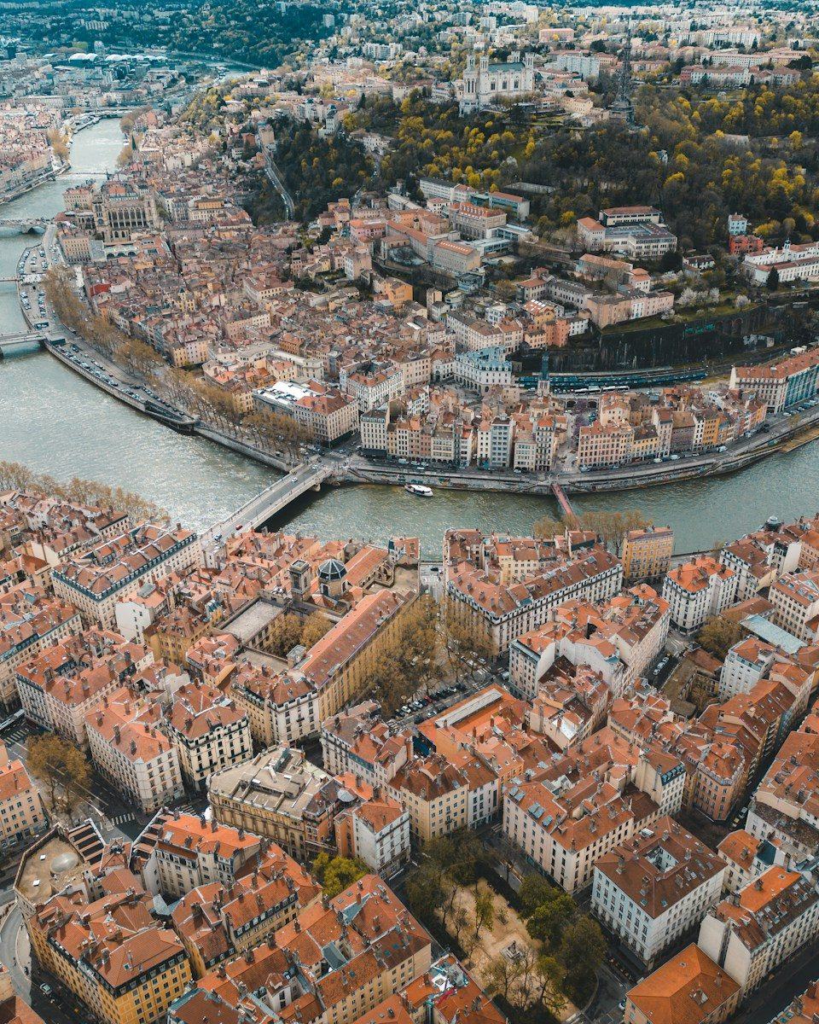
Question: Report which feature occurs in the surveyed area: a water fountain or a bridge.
bridge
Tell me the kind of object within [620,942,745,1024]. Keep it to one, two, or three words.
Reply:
building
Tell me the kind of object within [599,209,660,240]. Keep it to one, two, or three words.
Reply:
building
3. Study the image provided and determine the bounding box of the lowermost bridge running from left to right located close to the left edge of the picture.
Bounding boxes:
[0,333,53,353]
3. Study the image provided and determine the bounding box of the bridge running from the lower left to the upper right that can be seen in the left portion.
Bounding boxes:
[202,462,332,556]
